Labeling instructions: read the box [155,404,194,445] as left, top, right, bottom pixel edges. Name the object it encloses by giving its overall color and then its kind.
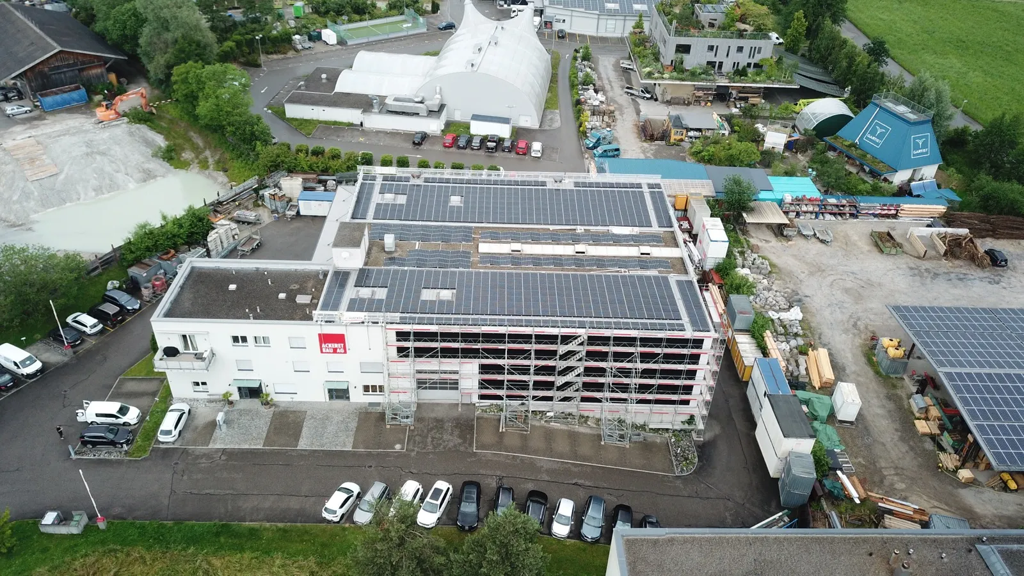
white car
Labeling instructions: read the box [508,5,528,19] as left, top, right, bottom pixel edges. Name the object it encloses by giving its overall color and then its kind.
white vehicle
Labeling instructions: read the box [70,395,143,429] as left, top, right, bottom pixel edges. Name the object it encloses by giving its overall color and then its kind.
white van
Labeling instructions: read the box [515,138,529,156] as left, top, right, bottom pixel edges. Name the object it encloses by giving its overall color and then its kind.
red car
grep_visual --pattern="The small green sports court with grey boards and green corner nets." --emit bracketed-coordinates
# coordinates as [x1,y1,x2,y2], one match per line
[326,0,427,44]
